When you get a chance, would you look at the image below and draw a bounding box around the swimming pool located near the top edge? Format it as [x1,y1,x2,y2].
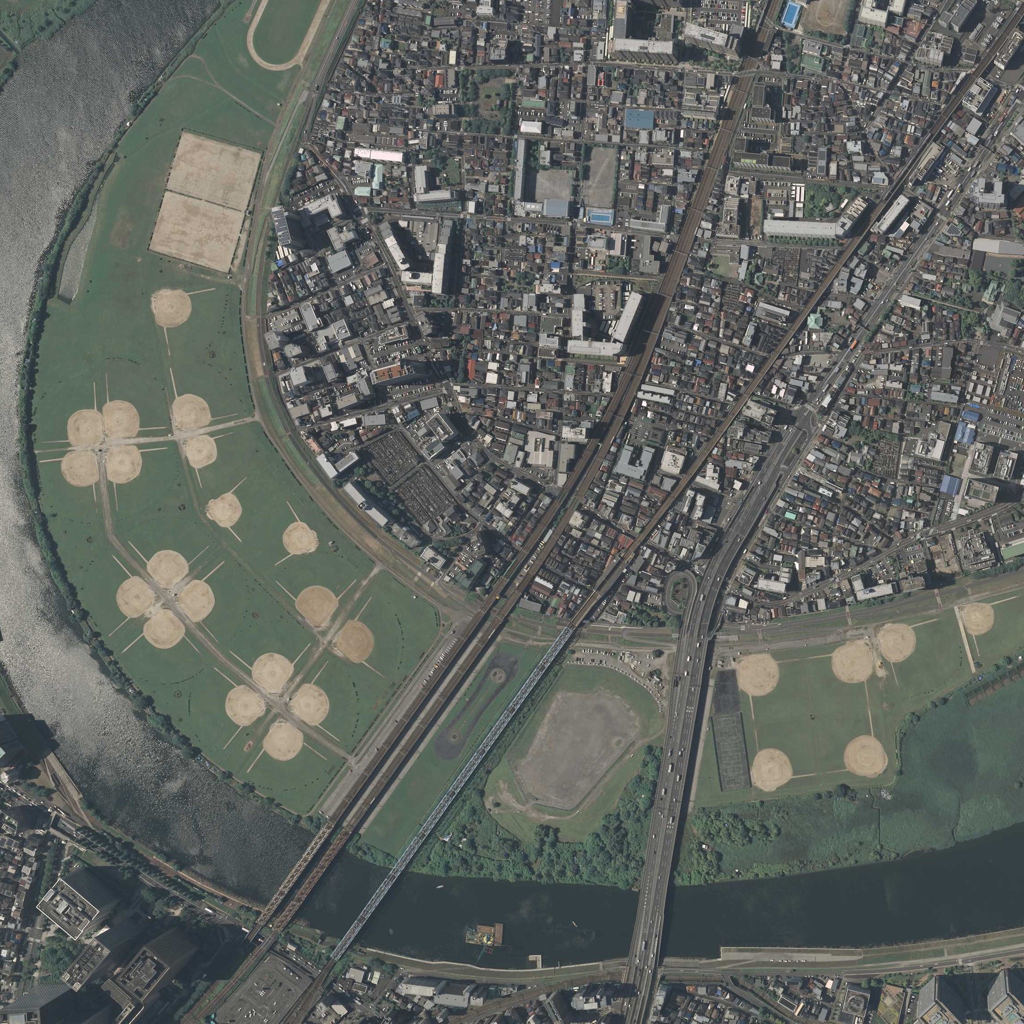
[780,1,802,29]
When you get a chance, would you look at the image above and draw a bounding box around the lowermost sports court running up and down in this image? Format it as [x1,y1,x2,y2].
[711,712,752,792]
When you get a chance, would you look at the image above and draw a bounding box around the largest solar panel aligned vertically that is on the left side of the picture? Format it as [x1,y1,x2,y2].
[275,208,289,243]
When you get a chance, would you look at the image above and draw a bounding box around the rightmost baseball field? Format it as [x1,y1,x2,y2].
[961,597,1016,655]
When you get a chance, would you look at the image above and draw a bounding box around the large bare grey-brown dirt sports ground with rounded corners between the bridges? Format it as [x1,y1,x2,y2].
[512,693,638,808]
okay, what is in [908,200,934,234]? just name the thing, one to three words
building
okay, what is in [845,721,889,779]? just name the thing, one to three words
baseball field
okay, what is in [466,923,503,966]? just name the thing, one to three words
ship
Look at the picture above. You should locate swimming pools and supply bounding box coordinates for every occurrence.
[586,209,614,226]
[780,1,802,29]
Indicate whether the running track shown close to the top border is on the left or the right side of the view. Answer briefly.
left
